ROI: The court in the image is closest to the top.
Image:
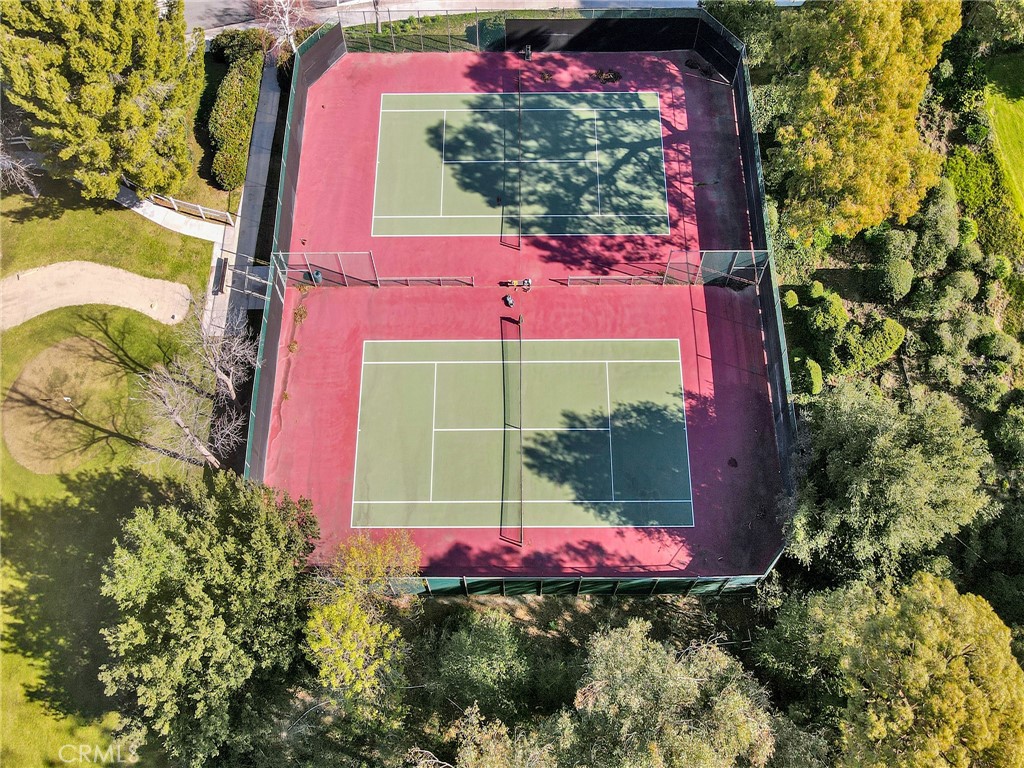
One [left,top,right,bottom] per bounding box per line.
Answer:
[287,50,756,287]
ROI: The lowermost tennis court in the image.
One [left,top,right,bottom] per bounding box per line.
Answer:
[262,284,786,579]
